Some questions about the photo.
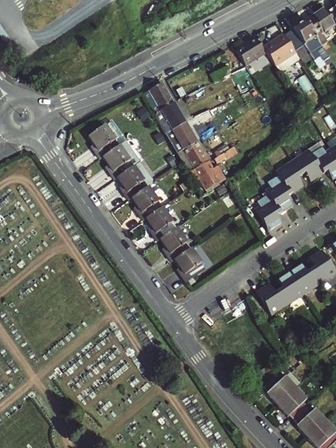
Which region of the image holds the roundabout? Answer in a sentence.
The roundabout is located in the top left region of the scene.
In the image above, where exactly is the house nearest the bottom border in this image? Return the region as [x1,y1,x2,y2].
[298,405,336,448]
